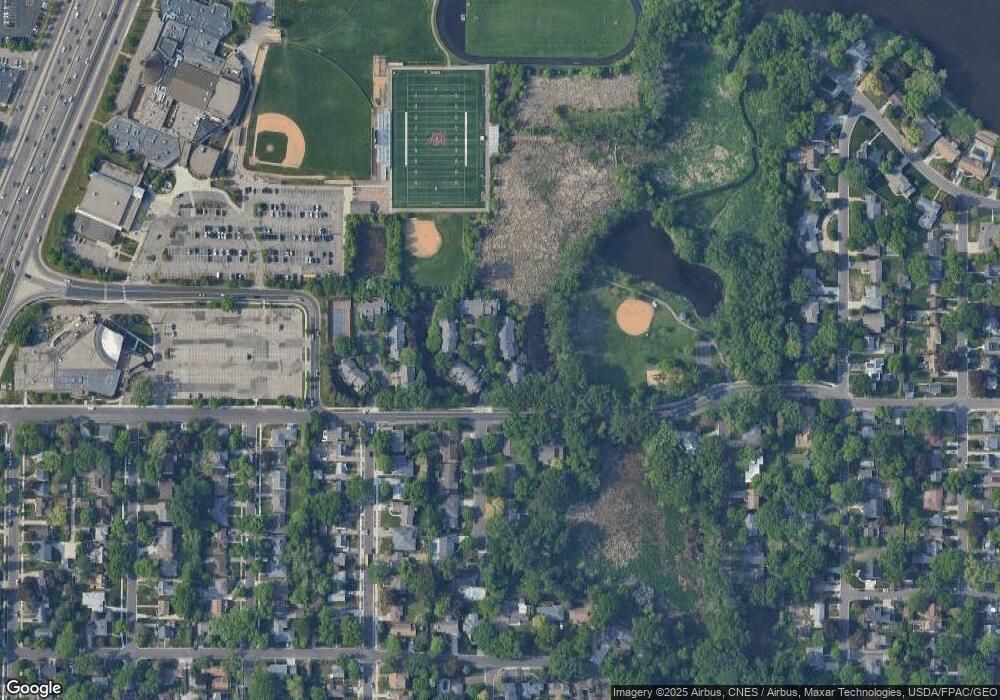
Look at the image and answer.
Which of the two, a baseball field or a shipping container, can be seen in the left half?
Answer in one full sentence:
What appears in the left half is a baseball field.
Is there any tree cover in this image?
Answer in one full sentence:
Yes, tree cover shows up in the scene.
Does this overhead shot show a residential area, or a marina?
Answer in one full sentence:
The picture captures a residential area.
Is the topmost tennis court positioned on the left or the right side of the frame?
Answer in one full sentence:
The topmost tennis court appears in the left half of the scene.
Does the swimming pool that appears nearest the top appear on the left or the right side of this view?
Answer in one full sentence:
The swimming pool that appears nearest the top is on the right side of the image.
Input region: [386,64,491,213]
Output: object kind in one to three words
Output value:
sports field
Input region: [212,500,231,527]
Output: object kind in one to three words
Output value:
house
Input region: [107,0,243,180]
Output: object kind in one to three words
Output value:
building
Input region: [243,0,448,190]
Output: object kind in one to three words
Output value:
baseball field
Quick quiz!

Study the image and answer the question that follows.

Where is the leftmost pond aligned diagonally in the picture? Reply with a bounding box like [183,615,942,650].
[600,208,723,318]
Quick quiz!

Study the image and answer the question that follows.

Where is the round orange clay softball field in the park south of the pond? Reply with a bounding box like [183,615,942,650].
[616,299,654,336]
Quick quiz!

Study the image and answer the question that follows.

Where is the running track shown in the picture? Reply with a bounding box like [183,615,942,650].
[437,0,643,65]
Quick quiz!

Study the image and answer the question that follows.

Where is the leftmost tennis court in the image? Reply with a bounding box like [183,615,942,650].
[329,300,351,341]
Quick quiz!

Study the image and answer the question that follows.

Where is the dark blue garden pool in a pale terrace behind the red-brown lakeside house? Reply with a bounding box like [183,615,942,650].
[970,143,991,162]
